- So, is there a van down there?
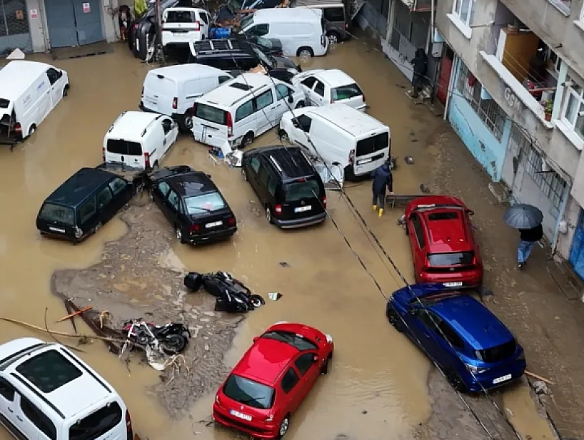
Yes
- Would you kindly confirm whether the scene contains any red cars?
Yes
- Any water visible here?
Yes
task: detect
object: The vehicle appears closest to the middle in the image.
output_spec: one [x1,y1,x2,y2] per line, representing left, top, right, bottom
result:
[243,144,330,226]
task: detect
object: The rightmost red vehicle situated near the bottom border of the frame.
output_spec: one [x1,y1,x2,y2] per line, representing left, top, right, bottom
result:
[217,323,331,440]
